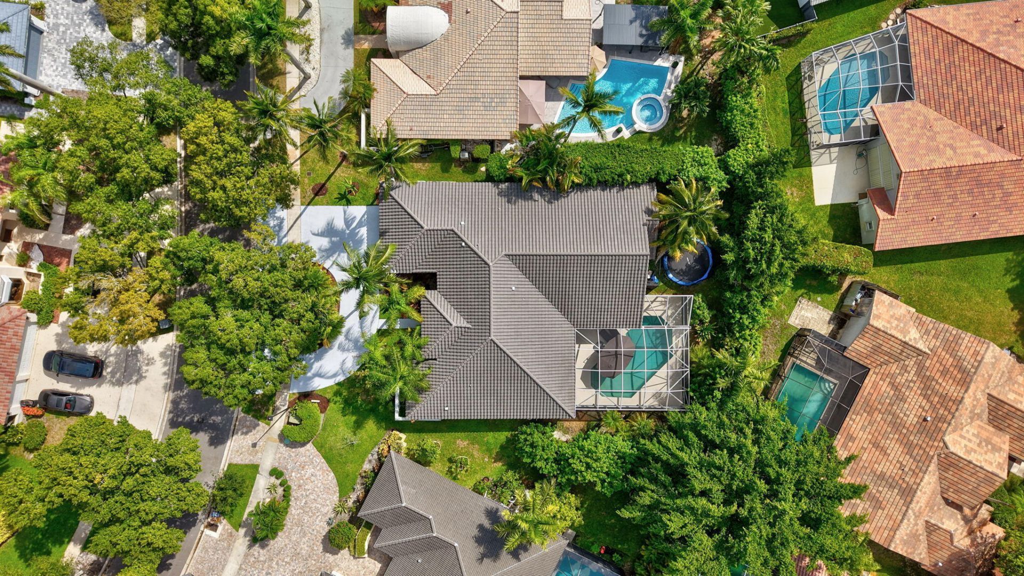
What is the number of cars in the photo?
2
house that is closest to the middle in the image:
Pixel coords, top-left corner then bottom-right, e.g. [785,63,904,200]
[378,180,659,421]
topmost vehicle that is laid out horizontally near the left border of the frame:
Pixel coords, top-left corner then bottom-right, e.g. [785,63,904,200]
[37,351,102,381]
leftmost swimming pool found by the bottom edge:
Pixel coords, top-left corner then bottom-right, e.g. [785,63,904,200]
[554,547,625,576]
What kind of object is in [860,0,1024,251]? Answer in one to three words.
house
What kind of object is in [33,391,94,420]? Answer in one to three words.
car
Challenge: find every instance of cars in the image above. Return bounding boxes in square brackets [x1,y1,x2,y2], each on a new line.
[33,391,94,420]
[37,351,102,381]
